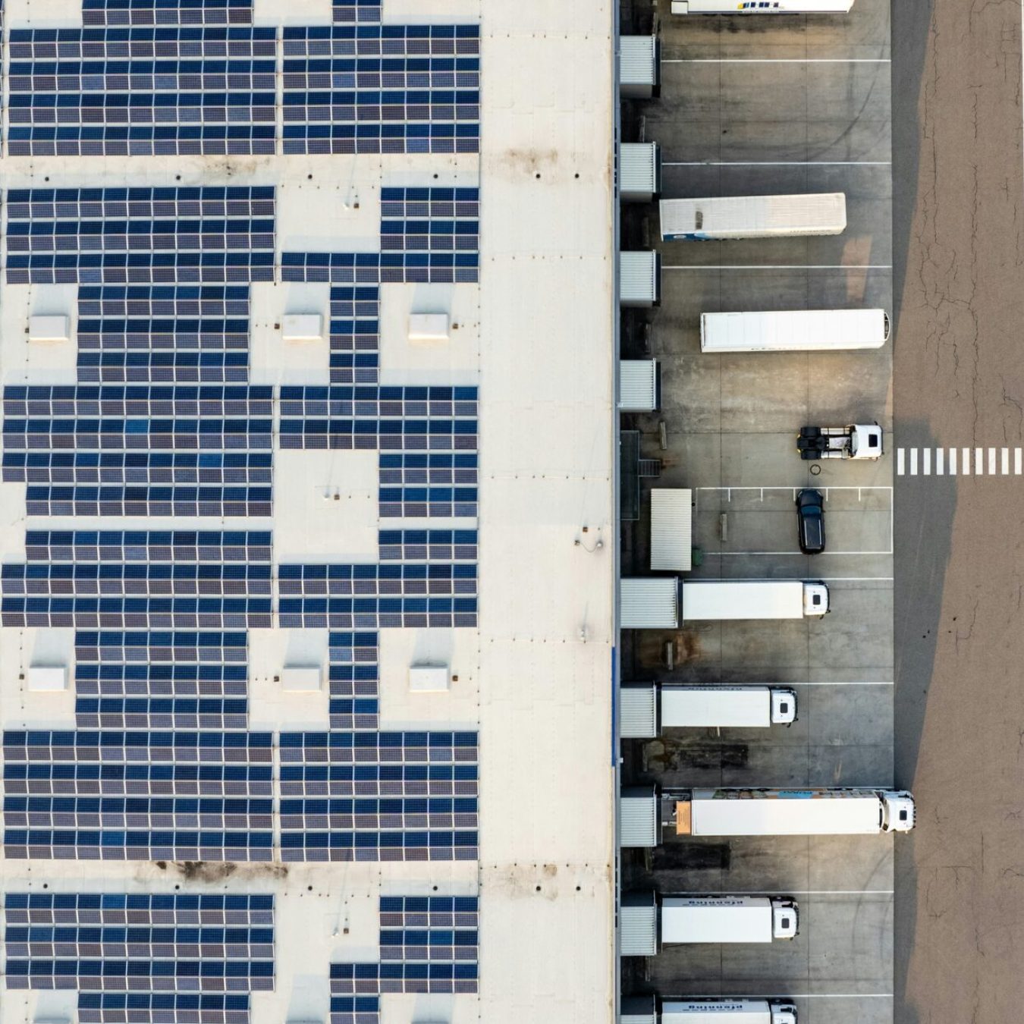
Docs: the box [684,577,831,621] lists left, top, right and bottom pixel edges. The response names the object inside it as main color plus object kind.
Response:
white truck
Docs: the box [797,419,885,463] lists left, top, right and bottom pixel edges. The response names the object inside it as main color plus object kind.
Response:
white truck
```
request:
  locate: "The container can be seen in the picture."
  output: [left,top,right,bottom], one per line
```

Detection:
[648,489,691,570]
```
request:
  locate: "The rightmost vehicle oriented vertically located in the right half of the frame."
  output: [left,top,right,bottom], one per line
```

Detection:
[795,489,826,554]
